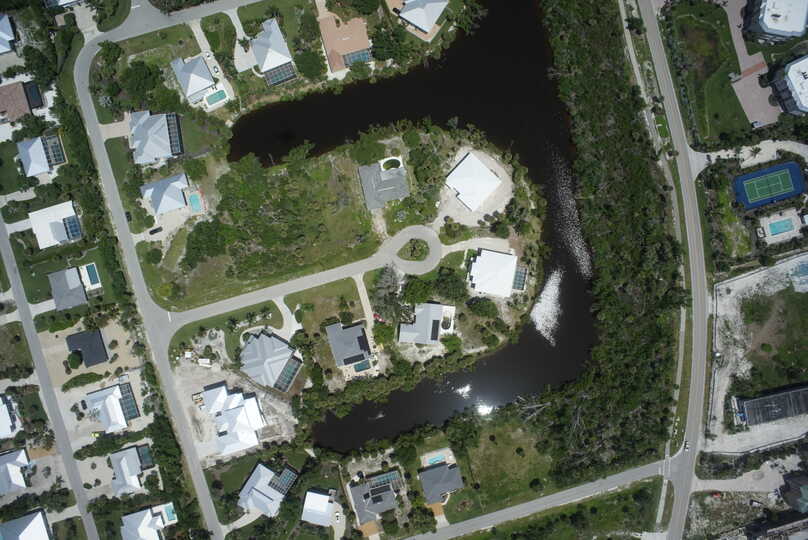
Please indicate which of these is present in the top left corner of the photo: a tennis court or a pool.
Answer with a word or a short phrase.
pool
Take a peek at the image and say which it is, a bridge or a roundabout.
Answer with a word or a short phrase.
roundabout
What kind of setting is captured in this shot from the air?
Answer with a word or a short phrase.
residential area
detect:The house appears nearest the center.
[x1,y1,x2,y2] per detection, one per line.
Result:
[399,304,442,344]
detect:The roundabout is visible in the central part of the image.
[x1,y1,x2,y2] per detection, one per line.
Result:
[387,225,440,275]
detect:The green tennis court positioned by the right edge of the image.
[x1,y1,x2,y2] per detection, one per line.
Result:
[735,163,804,209]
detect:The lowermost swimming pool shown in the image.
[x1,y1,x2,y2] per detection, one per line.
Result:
[155,502,177,527]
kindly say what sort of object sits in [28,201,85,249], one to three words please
house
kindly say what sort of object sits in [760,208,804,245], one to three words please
swimming pool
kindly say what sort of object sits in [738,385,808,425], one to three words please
building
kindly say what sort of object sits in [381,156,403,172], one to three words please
swimming pool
